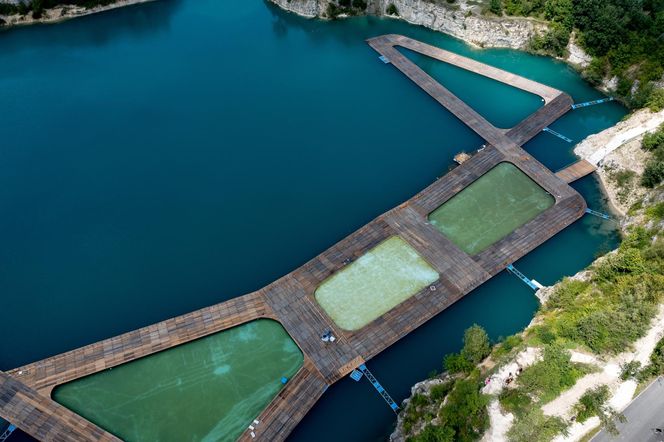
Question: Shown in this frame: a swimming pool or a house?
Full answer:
This aerial view contains a swimming pool.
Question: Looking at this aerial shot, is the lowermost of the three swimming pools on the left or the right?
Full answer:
It is on the left.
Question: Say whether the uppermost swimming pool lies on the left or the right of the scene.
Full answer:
The uppermost swimming pool sits on the right side.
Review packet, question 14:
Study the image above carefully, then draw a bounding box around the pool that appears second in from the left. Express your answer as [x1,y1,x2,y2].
[316,236,440,331]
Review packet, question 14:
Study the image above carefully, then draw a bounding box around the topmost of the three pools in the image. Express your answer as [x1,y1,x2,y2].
[428,159,556,255]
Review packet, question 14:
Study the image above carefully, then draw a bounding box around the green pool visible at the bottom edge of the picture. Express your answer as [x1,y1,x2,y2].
[53,317,303,442]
